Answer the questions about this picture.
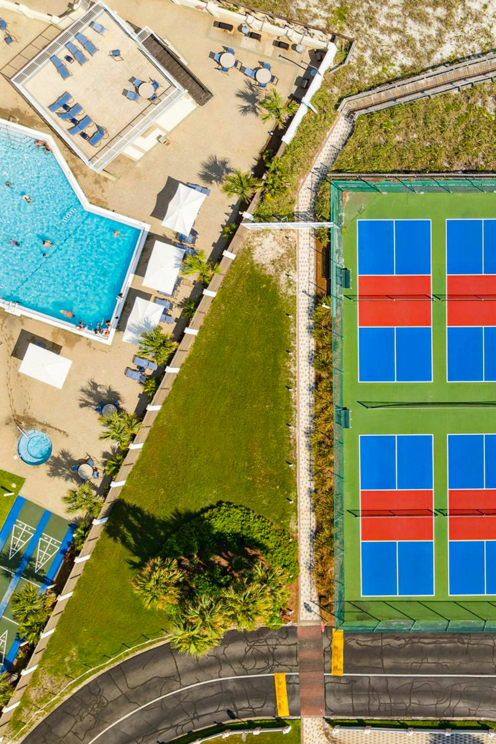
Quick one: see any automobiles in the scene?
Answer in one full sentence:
No, there is no automobile in the image.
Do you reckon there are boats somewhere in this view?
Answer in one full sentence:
No, this view has no boat in it.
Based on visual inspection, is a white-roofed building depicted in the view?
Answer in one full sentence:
Yes, looking at the shot, I can spot a white-roofed building.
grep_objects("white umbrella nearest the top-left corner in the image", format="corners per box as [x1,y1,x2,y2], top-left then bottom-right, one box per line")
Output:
[162,183,206,237]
